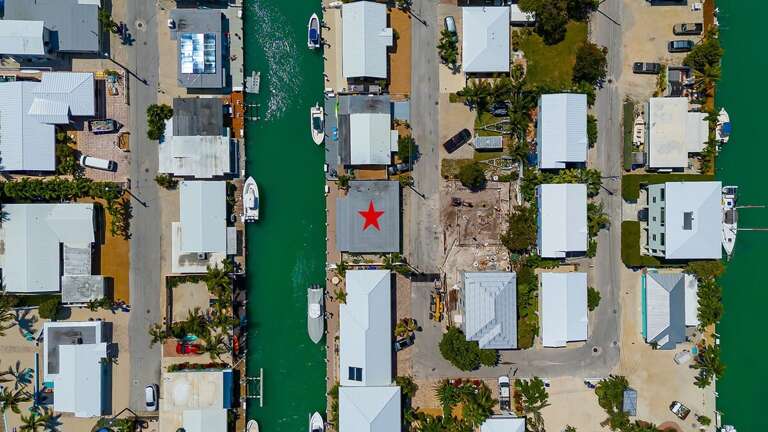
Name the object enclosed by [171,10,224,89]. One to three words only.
house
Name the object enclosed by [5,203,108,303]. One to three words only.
house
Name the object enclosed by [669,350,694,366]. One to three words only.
boat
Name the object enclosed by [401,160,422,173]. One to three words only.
vehicle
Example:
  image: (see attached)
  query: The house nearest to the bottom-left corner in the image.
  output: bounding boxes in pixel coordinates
[43,320,106,416]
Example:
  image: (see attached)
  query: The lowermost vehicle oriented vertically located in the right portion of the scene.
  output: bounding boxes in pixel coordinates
[498,374,512,410]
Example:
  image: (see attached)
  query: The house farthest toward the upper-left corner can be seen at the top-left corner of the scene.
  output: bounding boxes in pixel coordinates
[0,0,105,56]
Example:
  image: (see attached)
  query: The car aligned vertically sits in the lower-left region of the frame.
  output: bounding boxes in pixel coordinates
[146,382,160,410]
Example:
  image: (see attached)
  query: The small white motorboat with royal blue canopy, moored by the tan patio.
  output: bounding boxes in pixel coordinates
[308,14,326,52]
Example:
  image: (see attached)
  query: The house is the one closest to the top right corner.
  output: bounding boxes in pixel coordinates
[644,97,710,173]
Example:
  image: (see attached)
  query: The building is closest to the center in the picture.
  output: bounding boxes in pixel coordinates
[337,181,400,252]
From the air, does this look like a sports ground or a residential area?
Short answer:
residential area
